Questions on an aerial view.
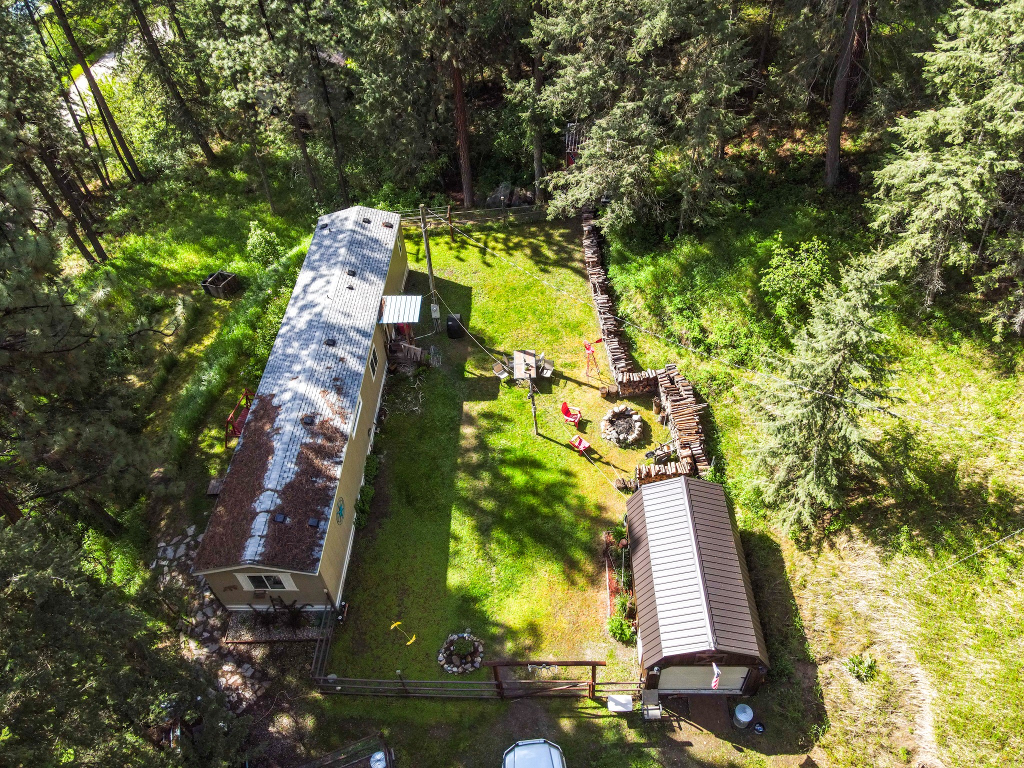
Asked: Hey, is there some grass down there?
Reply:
Yes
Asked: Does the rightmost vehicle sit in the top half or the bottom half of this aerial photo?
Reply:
bottom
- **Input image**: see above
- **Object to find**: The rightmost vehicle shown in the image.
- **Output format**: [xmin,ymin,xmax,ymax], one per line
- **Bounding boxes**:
[503,741,566,768]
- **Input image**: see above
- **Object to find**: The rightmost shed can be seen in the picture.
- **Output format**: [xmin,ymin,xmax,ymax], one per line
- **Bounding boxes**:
[624,476,772,690]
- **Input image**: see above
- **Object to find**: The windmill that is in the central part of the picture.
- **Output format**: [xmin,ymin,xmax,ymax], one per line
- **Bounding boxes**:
[586,346,613,387]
